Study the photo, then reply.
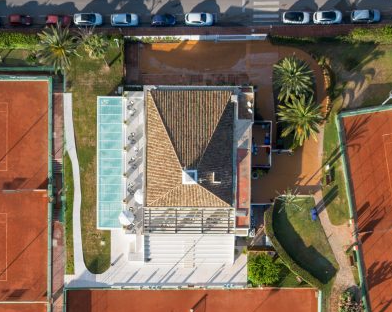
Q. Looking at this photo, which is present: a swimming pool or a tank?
swimming pool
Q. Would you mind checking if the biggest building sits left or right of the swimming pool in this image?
to its right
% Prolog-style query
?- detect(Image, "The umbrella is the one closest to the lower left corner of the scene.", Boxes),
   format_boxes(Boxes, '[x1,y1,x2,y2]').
[119,211,136,228]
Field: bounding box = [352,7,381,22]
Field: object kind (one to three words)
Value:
car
